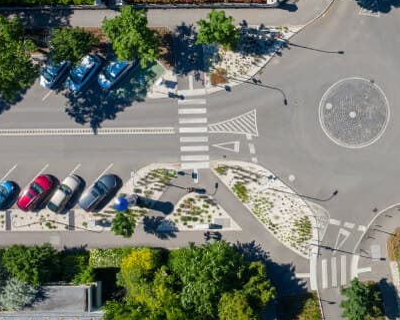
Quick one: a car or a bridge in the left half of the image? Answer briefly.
car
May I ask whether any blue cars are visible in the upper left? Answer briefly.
Yes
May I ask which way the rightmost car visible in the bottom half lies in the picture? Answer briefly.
diagonally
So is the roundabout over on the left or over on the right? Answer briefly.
right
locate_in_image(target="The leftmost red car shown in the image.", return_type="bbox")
[19,173,58,213]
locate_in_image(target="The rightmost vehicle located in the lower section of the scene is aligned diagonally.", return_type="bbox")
[78,173,120,215]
